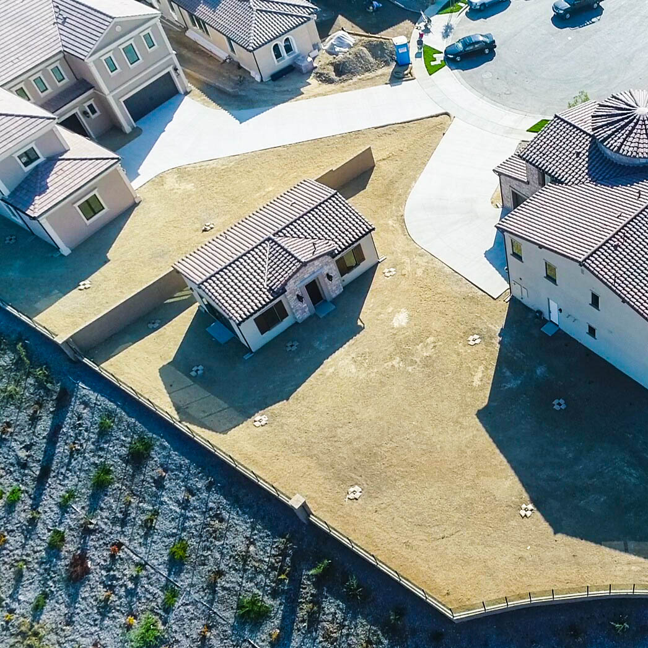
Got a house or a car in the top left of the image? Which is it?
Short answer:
house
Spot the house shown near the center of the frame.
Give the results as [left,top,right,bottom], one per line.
[170,179,383,360]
